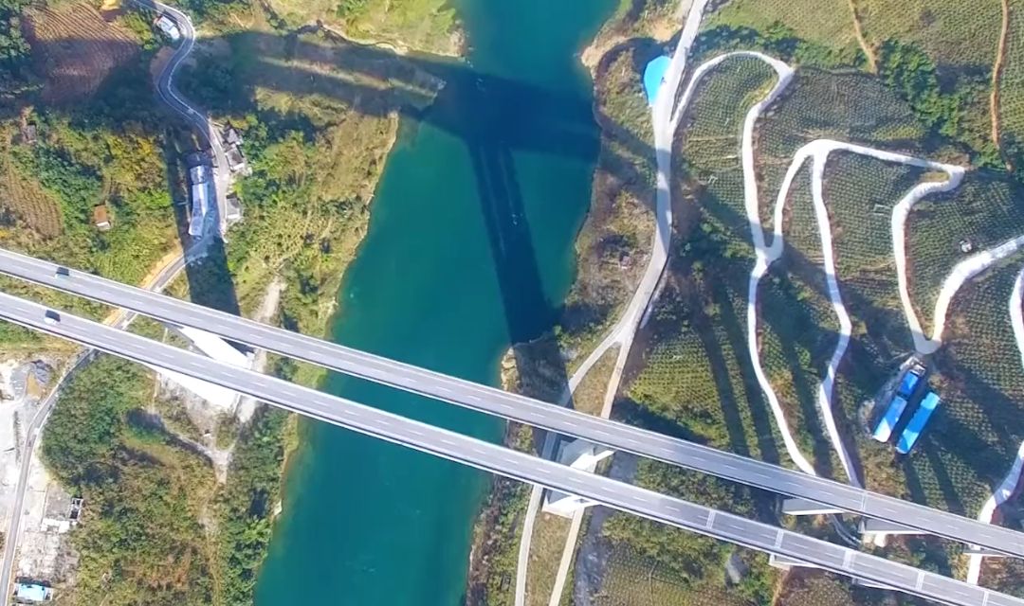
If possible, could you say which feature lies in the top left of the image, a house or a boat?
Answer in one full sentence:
Visible in the top left of the image is a house.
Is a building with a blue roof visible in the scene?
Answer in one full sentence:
Yes, you can see a building with a blue roof in this photo.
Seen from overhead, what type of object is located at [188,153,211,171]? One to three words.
house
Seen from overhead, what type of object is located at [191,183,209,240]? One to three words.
shed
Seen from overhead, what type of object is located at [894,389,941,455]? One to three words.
building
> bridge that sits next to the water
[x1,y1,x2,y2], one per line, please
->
[0,250,1024,561]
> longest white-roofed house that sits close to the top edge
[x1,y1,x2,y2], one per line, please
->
[157,21,186,41]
